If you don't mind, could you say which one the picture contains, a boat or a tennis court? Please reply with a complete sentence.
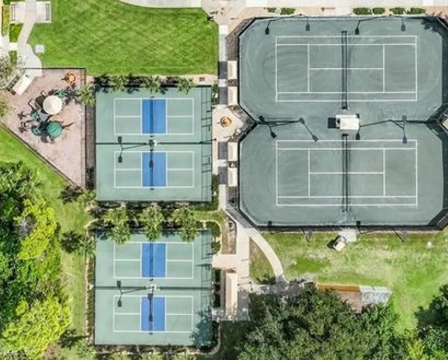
The image shows a tennis court.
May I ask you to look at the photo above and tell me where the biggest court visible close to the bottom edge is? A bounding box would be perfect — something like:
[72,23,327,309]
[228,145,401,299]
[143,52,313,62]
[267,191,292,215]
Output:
[94,289,213,346]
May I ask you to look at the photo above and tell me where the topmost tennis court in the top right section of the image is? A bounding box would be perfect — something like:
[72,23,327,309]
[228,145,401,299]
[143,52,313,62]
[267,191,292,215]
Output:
[240,18,448,122]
